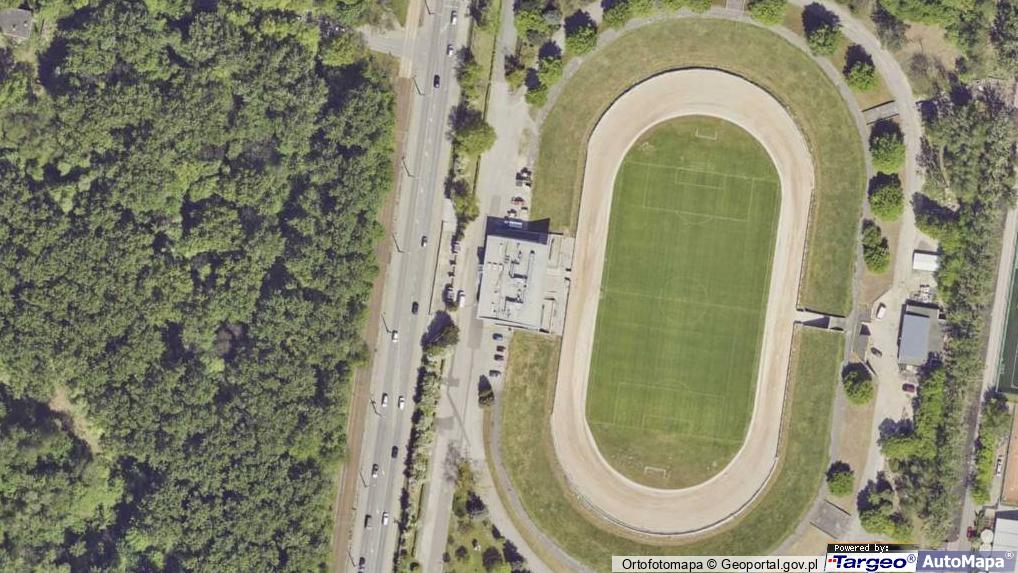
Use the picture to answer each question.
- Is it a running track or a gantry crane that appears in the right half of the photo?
running track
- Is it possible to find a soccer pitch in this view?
Yes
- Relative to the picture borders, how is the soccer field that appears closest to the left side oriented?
vertically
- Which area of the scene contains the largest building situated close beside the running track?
center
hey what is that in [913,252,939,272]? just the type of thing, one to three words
shed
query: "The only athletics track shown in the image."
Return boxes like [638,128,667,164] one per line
[551,67,814,537]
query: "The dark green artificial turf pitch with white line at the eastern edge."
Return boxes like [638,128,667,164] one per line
[996,258,1018,393]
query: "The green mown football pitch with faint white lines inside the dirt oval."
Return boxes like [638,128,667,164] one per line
[586,115,781,488]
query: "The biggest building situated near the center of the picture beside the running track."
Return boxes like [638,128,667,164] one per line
[477,234,546,329]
